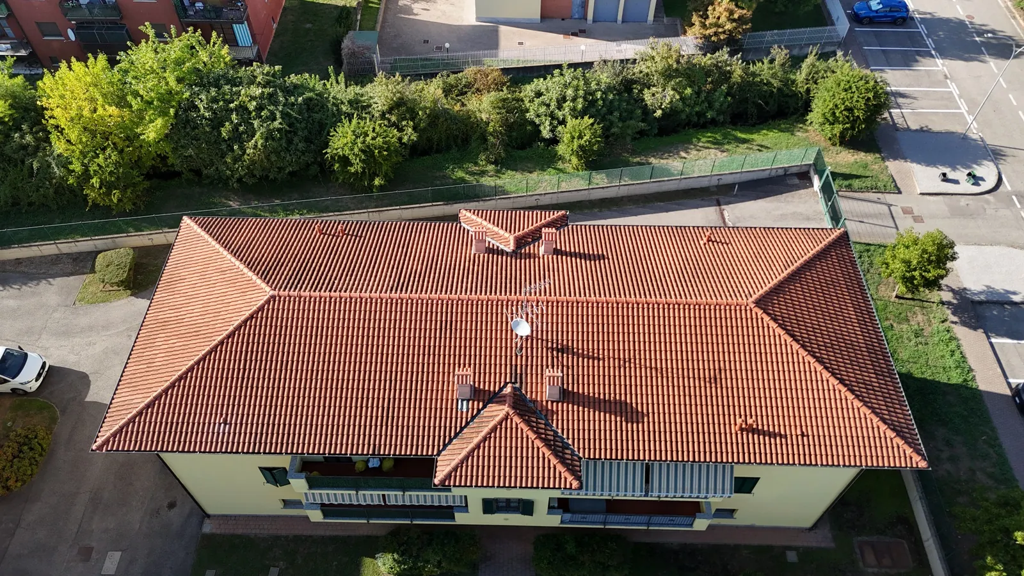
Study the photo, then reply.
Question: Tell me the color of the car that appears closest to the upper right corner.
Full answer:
The car that appears closest to the upper right corner looks blue in the image.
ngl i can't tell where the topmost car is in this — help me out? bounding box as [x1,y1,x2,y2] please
[852,0,914,25]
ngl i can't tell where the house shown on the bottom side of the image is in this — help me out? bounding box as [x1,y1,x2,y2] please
[90,207,931,530]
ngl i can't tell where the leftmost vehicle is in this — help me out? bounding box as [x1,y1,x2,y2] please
[0,343,46,390]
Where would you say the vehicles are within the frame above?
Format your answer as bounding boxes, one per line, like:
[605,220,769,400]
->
[1007,381,1024,414]
[0,343,46,390]
[852,0,914,25]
